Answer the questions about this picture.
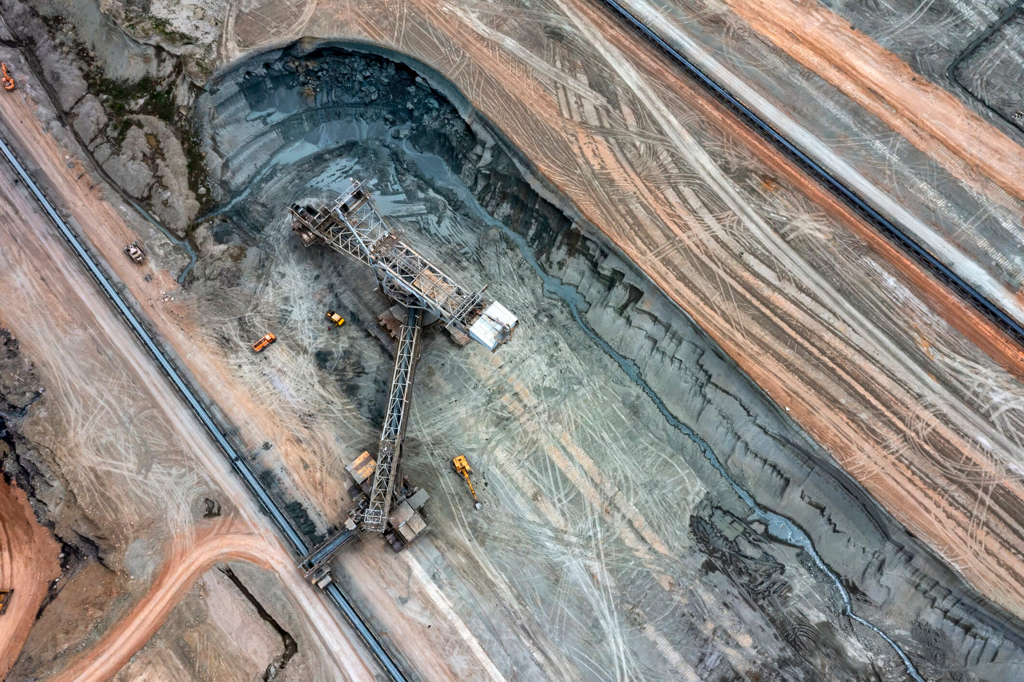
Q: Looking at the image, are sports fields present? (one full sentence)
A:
No, the picture doesn't show any sports field.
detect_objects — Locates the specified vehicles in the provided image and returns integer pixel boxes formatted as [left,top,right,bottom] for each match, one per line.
[0,587,13,613]
[119,240,145,267]
[0,61,22,97]
[324,310,345,328]
[450,457,483,517]
[248,332,278,354]
[287,176,521,531]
